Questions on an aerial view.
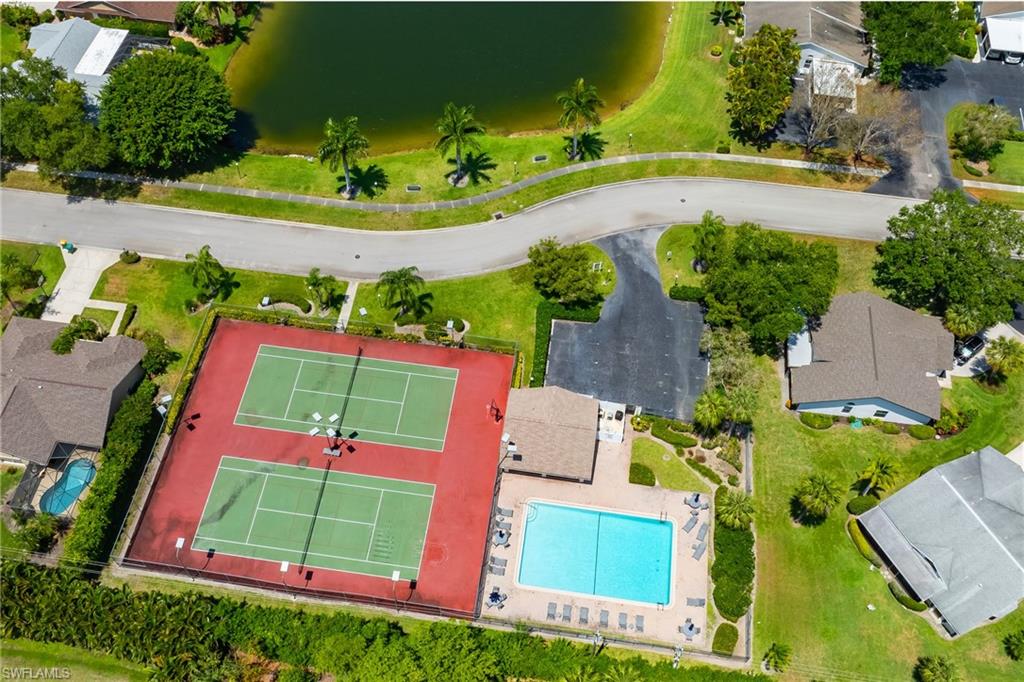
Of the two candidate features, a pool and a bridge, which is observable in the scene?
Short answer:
pool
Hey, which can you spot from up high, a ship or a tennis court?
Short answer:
tennis court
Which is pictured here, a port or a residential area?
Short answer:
residential area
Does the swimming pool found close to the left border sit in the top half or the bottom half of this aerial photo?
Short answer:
bottom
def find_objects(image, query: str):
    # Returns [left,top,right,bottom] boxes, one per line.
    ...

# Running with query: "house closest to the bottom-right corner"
[854,446,1024,637]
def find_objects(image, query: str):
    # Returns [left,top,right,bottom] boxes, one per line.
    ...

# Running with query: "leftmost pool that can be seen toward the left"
[37,456,98,518]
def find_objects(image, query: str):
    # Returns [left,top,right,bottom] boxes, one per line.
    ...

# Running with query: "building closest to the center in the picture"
[501,386,598,488]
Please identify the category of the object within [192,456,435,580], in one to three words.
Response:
tennis court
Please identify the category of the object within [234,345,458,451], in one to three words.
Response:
tennis court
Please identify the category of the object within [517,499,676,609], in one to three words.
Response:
swimming pool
